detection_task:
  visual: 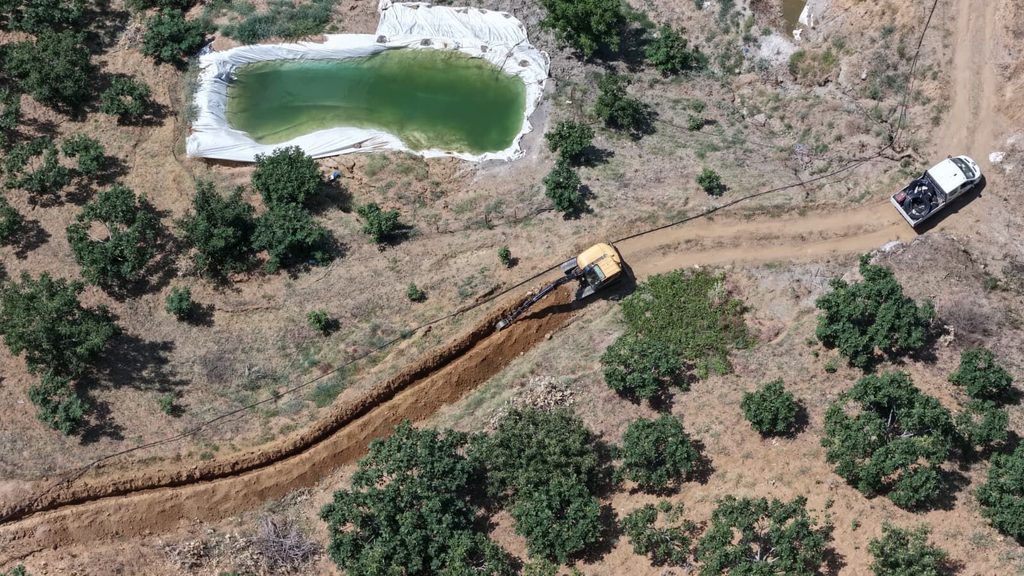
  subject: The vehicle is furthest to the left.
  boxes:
[497,242,633,329]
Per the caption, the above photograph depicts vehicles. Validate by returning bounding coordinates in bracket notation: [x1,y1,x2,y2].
[497,242,633,329]
[886,163,986,232]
